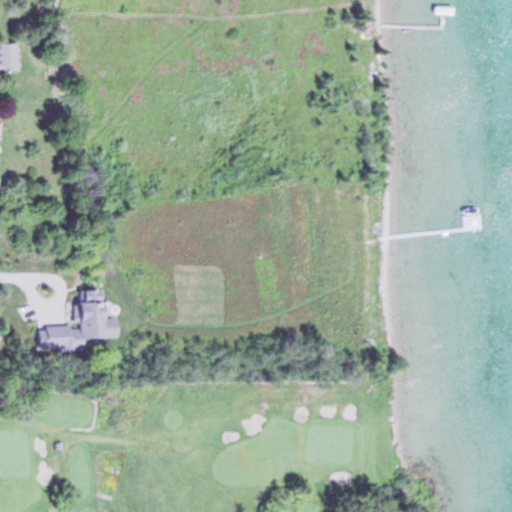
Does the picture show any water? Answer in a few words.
Yes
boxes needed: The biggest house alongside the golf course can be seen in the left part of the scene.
[38,291,122,352]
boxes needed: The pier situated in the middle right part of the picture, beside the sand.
[366,214,482,245]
